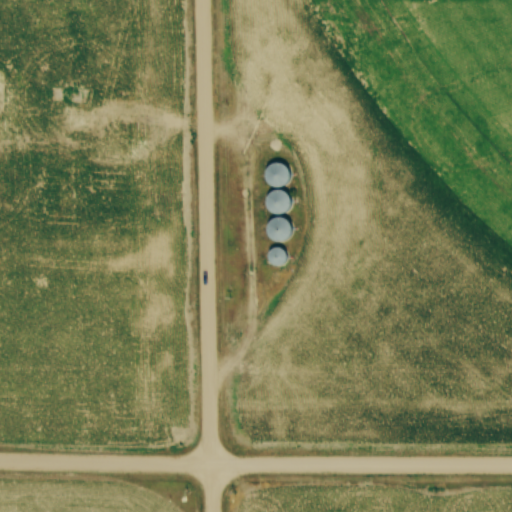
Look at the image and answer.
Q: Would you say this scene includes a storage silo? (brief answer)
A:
Yes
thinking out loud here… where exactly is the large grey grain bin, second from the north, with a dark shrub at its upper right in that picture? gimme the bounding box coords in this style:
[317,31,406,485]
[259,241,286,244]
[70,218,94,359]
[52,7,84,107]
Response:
[266,189,298,216]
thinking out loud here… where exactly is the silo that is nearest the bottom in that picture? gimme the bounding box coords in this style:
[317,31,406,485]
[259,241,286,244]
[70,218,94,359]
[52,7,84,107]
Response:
[268,246,296,268]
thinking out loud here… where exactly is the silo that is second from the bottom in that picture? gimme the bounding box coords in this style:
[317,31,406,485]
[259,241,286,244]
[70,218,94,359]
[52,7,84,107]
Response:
[267,217,299,244]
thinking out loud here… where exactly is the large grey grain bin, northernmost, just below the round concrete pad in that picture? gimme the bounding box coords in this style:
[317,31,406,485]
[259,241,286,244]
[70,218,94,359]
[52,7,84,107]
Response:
[265,162,298,189]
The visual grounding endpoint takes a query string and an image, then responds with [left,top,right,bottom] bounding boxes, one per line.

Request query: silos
[268,246,296,268]
[265,162,298,189]
[266,189,298,216]
[267,217,299,244]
